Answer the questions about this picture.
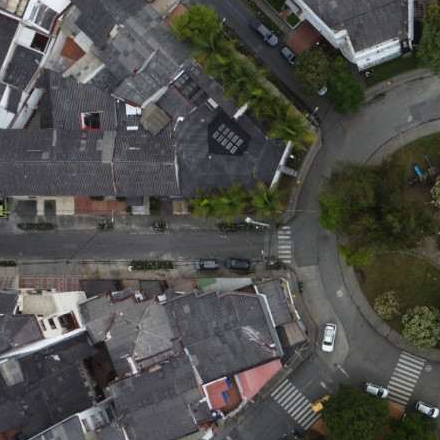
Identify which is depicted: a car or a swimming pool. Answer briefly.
car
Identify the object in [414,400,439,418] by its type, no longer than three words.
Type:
car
